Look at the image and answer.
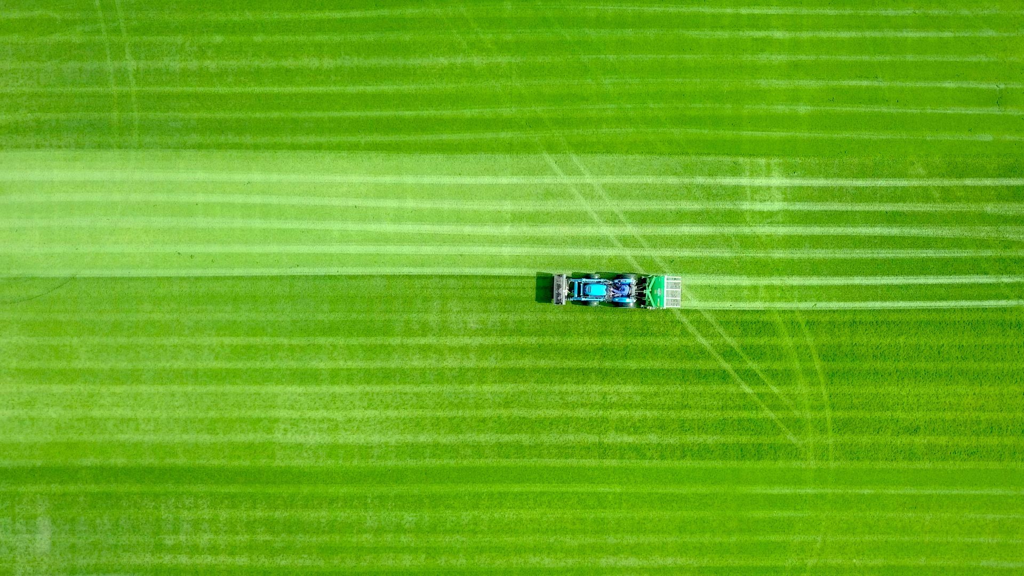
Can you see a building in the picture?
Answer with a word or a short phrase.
No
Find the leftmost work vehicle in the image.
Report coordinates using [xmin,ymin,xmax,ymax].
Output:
[554,273,647,308]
